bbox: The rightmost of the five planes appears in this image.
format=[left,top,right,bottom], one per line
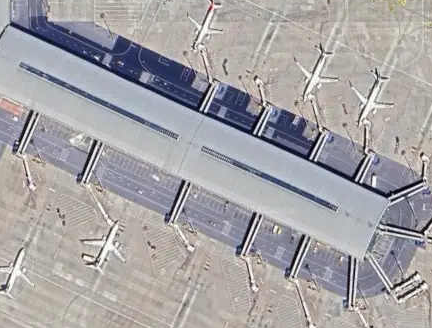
[346,71,398,126]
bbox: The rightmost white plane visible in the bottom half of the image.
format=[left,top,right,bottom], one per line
[80,222,126,272]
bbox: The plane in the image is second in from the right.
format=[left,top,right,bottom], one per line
[292,46,341,100]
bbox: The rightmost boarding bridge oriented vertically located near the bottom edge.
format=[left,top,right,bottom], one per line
[342,255,373,328]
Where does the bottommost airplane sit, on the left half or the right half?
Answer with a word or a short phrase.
left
